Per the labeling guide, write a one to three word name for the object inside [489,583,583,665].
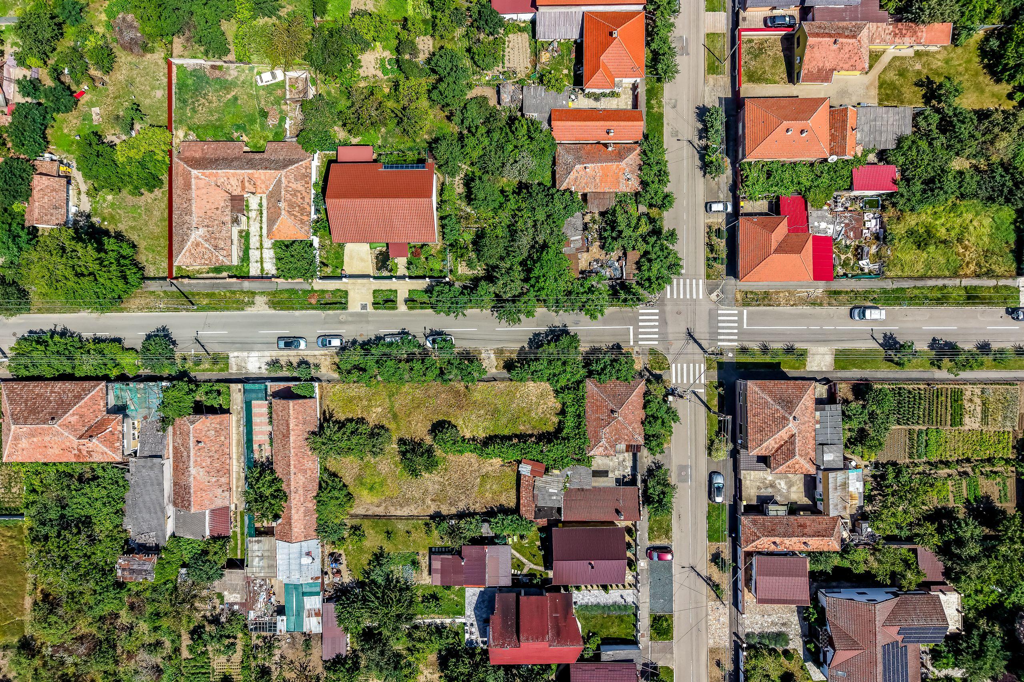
house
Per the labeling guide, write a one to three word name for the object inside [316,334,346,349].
car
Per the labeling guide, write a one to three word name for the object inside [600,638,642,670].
shed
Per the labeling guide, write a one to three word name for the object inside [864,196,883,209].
swimming pool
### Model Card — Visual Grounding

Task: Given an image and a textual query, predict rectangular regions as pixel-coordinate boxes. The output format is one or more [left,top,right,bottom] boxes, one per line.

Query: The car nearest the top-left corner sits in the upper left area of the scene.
[255,68,279,87]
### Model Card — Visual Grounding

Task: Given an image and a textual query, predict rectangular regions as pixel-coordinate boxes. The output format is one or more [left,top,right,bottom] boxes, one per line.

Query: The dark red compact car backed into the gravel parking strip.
[646,547,673,563]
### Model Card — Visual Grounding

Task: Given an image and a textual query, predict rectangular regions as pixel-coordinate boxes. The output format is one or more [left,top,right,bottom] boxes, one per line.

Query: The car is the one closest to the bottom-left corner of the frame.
[277,336,308,351]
